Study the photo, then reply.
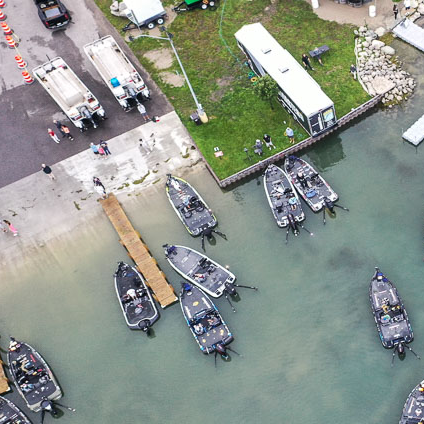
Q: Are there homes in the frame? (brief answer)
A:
No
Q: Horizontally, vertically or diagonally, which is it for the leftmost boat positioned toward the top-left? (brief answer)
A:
diagonally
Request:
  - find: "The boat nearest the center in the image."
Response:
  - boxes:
[162,171,230,251]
